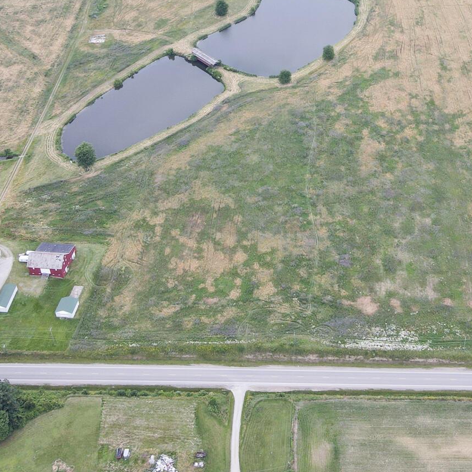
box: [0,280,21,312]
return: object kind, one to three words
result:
shed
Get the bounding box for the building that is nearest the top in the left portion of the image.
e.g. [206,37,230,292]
[27,244,76,283]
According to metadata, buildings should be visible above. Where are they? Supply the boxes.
[0,280,21,312]
[55,295,81,317]
[27,244,76,283]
